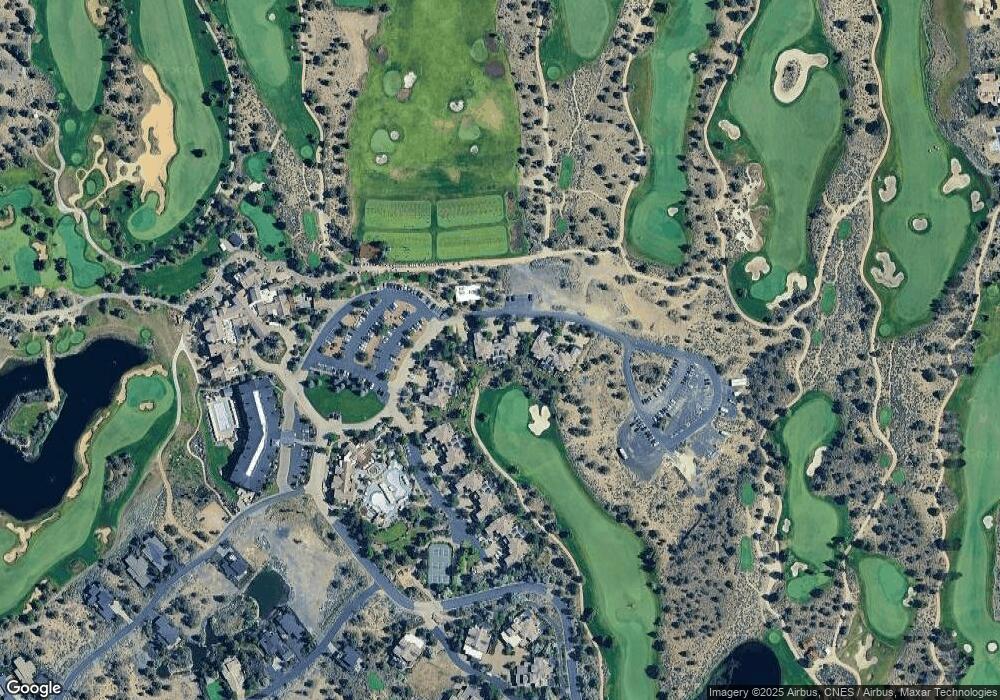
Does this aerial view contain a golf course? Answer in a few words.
Yes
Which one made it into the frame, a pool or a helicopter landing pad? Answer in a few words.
pool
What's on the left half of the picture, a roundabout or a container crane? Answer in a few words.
roundabout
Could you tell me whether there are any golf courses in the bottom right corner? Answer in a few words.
Yes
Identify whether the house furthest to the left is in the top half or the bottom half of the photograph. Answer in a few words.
bottom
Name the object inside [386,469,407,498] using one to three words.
swimming pool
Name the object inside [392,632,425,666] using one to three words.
house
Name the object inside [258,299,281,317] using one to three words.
building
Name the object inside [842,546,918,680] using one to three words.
golf course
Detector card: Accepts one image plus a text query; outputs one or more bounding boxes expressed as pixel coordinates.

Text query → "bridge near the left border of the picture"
[41,329,62,407]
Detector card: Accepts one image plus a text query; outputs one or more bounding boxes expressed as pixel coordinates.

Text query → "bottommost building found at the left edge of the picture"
[11,657,39,687]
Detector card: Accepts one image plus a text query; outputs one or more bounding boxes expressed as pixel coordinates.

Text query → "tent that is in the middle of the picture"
[455,285,481,299]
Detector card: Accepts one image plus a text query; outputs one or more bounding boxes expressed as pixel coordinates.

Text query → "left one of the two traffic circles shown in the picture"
[246,324,295,373]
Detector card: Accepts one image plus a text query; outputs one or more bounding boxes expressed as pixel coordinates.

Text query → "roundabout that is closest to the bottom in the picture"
[412,599,450,630]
